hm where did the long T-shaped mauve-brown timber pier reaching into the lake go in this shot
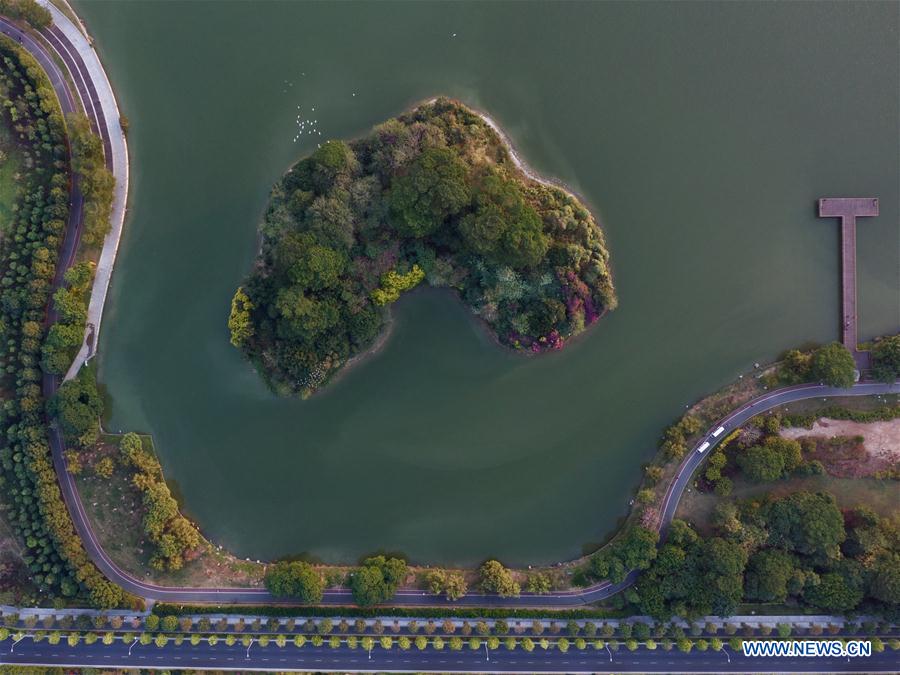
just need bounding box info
[819,198,881,383]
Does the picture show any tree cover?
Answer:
Yes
